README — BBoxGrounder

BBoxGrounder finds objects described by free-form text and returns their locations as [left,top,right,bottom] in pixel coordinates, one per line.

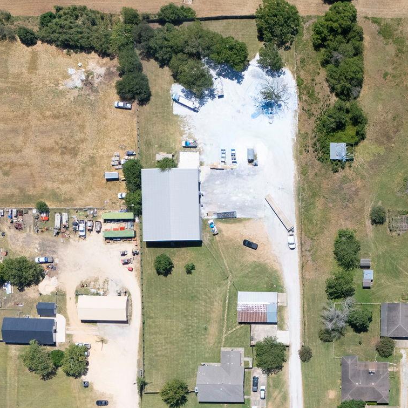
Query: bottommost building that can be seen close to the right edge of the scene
[341,356,389,404]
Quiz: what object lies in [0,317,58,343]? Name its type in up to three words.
house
